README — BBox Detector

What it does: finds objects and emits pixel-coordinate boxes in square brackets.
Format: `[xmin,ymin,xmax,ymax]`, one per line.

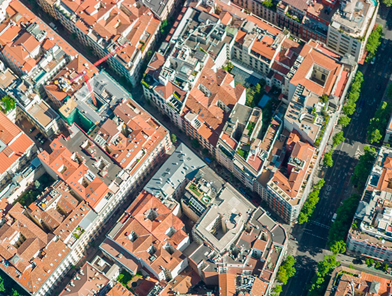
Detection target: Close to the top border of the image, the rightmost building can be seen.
[324,0,379,60]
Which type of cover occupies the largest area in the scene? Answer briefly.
buildings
